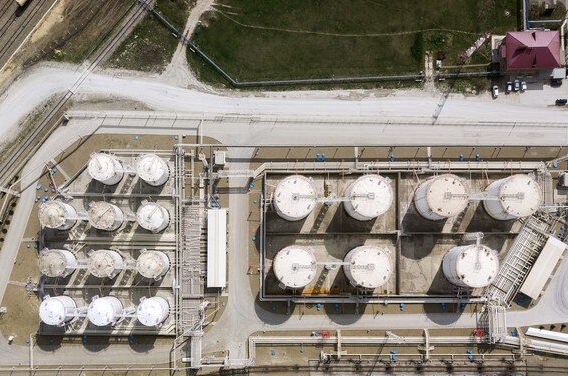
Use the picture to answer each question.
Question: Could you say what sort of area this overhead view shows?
industrial area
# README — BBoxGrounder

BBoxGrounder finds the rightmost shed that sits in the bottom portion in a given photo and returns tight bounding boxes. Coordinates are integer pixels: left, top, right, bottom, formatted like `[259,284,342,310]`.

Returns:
[515,236,568,299]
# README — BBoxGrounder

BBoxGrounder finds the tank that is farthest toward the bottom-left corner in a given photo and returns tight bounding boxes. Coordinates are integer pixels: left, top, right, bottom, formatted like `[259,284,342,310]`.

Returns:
[38,294,83,328]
